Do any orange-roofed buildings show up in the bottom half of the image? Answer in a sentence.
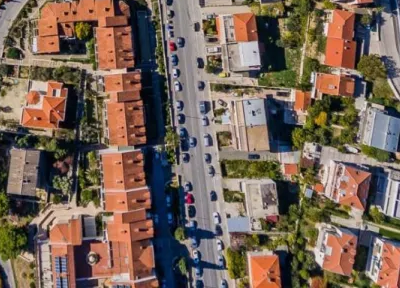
Yes, an orange-roofed building appears in the bottom half of the image.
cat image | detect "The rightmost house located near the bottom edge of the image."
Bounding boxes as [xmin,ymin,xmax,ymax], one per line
[359,236,400,288]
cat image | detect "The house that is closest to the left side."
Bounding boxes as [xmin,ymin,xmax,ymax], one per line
[6,148,42,197]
